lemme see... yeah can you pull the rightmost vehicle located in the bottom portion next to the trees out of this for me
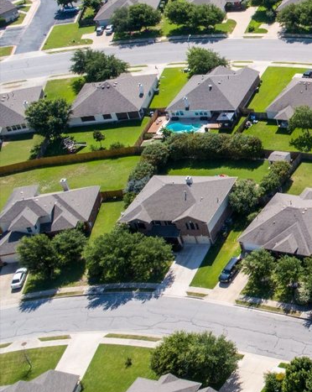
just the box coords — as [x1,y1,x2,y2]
[220,259,238,281]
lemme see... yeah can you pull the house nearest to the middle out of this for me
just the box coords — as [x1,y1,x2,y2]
[119,166,237,245]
